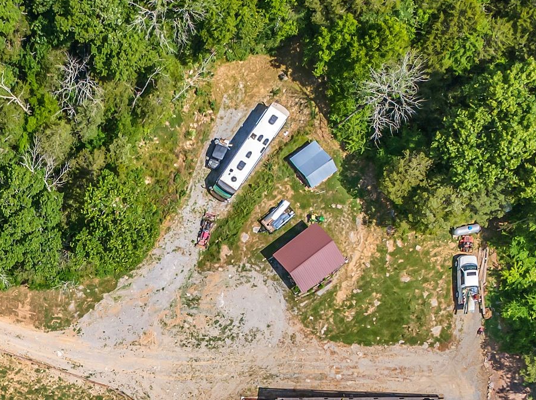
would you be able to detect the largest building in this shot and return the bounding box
[268,223,345,307]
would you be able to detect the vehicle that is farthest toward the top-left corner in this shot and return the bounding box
[203,140,230,171]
